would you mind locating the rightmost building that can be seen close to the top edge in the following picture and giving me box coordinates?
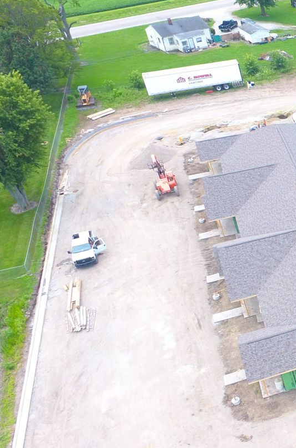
[236,16,270,44]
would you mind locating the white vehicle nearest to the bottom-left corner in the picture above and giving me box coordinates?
[68,226,106,269]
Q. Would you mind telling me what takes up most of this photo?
paved ground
